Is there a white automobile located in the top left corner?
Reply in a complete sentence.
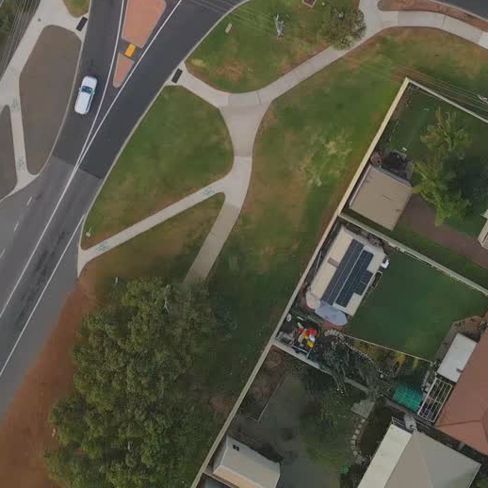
Yes, a white automobile appears in the top left corner.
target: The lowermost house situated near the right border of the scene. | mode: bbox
[380,426,482,488]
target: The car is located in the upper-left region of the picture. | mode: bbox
[73,73,99,116]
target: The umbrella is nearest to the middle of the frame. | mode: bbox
[305,292,321,308]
